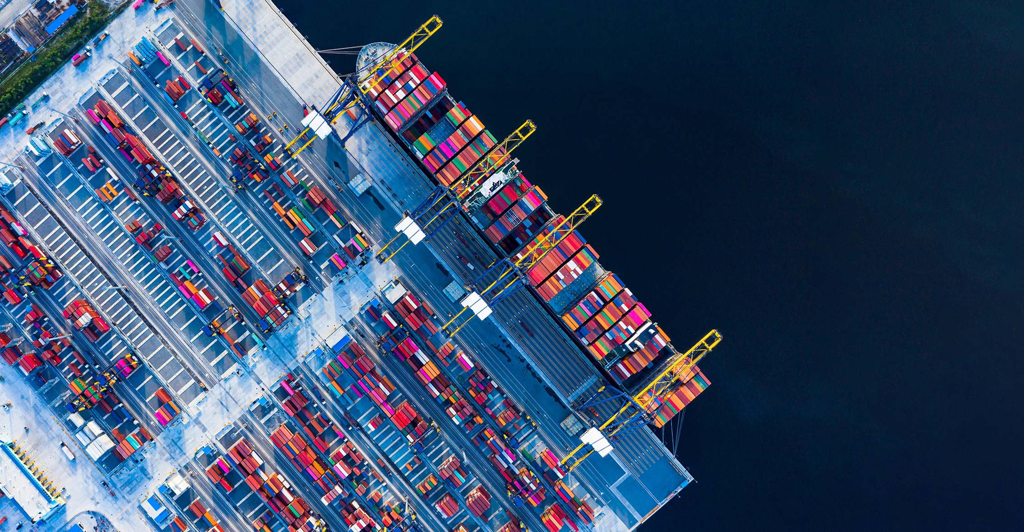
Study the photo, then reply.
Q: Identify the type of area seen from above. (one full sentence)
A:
The area seen from above is a port.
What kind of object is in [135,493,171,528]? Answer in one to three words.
building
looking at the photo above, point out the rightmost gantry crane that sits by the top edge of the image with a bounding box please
[280,16,441,161]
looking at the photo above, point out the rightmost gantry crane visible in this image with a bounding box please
[558,332,720,476]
